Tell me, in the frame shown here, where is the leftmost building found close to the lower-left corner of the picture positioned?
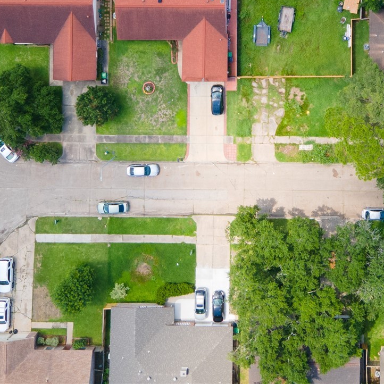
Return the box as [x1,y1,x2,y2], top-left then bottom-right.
[0,332,91,384]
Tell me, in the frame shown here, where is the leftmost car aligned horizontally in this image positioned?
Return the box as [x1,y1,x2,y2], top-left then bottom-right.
[98,199,131,215]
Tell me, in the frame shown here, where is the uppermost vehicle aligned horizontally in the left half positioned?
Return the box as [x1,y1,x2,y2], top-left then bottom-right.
[127,163,160,178]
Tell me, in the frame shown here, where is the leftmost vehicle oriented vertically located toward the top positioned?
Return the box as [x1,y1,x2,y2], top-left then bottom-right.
[210,85,223,117]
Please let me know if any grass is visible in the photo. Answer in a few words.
Yes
